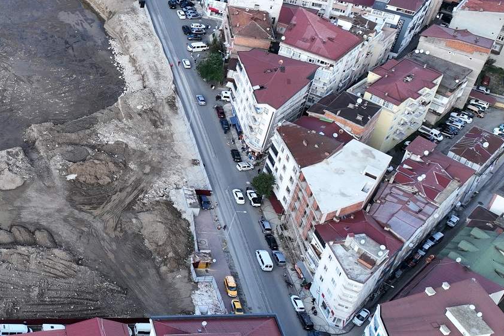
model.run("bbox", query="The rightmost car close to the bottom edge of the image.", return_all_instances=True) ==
[354,307,371,325]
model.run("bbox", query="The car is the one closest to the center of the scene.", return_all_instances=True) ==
[236,159,255,172]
